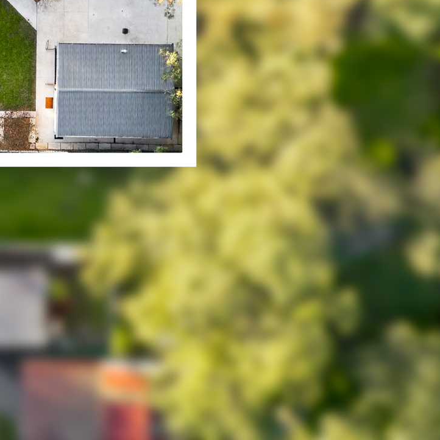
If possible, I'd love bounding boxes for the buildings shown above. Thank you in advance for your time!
[21,357,158,440]
[43,40,176,138]
[0,265,48,347]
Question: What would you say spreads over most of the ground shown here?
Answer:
trees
